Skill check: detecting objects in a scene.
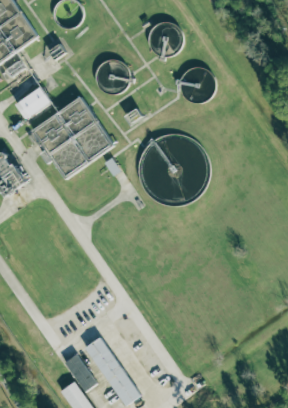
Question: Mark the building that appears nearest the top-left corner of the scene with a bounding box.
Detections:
[16,86,54,122]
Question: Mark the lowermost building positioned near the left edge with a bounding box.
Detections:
[0,150,34,199]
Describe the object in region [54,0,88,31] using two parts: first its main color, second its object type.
green storage tank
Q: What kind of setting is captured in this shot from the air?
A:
industrial area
